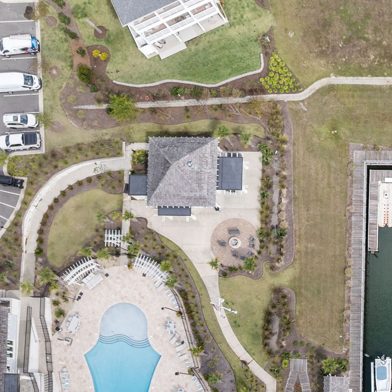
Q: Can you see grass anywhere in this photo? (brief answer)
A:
Yes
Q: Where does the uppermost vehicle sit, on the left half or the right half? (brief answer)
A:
left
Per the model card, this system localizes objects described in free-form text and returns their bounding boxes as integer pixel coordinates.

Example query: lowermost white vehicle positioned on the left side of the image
[0,132,44,152]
